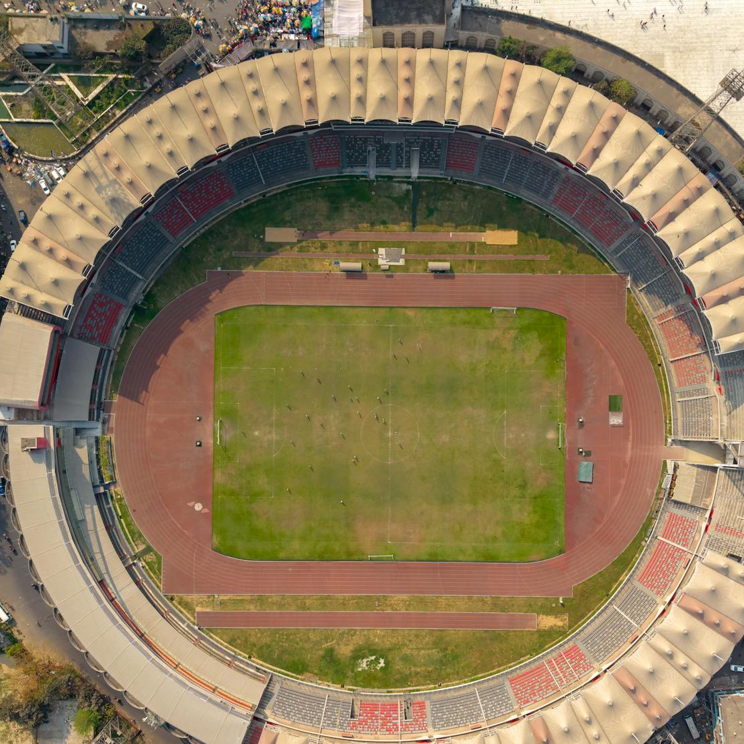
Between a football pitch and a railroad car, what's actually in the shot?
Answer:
football pitch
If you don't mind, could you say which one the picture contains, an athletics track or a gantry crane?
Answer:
athletics track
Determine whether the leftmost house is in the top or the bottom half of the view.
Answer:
top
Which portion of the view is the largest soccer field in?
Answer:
center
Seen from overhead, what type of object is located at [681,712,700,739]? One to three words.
vehicle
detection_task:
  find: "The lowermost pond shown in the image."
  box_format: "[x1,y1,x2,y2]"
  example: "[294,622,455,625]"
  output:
[0,122,75,158]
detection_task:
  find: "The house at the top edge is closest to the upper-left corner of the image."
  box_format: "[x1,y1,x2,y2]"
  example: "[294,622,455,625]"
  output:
[9,18,71,59]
